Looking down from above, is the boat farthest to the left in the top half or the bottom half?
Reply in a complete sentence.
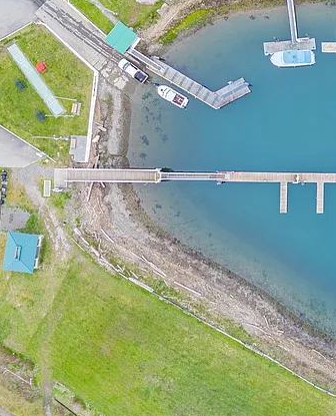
You can find the boat farthest to the left in the top half.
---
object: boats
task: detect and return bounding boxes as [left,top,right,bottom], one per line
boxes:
[270,47,316,69]
[158,87,189,109]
